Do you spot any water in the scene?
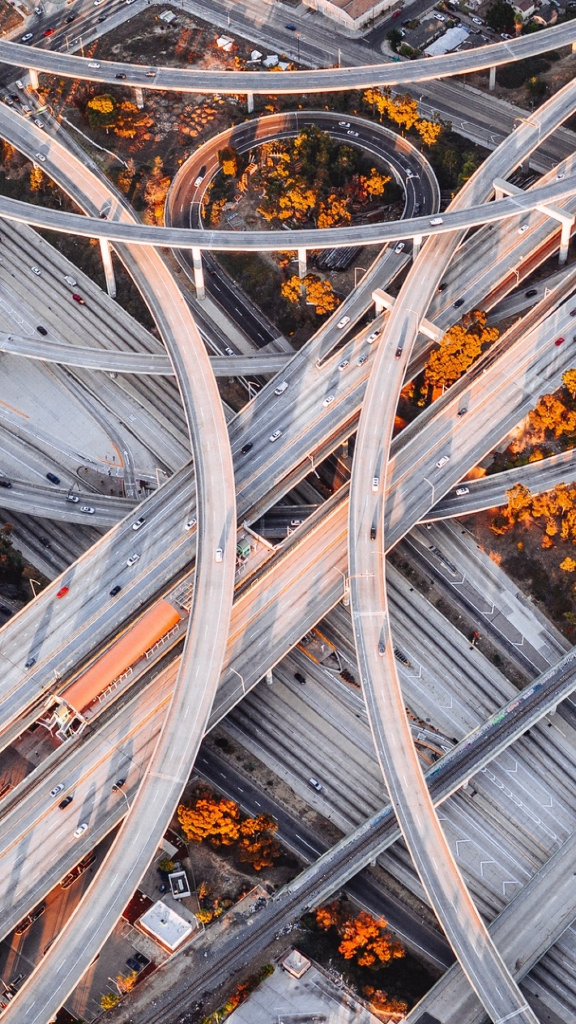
No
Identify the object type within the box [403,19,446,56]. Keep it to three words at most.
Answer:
house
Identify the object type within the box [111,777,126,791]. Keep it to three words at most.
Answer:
car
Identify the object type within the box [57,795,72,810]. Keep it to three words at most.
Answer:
car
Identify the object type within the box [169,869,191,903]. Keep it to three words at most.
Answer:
shed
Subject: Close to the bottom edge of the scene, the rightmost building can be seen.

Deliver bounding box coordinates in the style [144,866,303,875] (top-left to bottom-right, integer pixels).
[224,951,371,1024]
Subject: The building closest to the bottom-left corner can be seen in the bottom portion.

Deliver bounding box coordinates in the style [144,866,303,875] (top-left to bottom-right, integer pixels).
[140,900,192,955]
